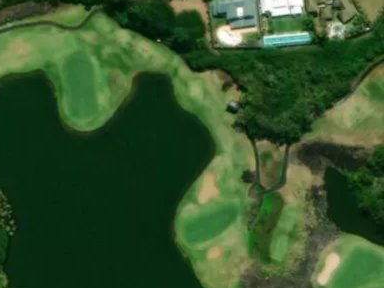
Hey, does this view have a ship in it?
No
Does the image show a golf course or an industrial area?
golf course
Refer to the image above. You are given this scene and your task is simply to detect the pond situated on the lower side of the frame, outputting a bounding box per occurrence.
[325,163,384,246]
